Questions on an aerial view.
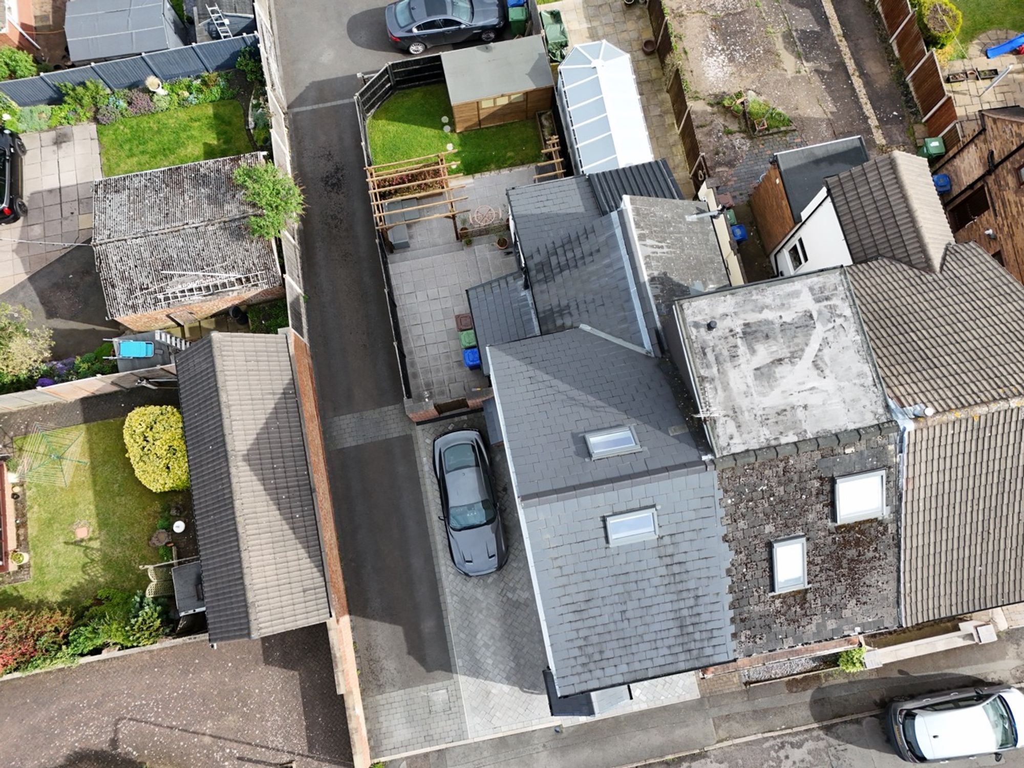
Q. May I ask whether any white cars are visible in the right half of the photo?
Yes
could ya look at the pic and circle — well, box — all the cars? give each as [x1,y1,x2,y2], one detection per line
[384,0,510,53]
[882,678,1024,766]
[0,125,31,229]
[433,427,507,578]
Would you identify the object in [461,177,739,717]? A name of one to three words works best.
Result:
house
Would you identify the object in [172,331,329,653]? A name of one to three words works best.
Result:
building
